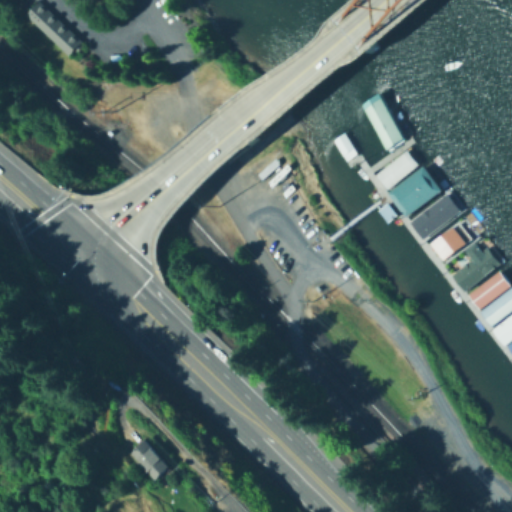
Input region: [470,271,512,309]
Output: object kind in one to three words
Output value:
house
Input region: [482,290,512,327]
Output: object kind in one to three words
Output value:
house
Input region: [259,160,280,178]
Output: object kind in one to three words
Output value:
camper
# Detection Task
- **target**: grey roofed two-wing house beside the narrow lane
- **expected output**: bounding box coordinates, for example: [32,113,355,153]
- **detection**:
[134,437,174,480]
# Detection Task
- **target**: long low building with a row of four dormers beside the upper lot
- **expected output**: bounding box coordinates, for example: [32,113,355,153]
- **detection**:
[32,0,88,58]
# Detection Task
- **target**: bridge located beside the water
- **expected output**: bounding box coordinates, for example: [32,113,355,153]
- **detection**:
[62,0,429,290]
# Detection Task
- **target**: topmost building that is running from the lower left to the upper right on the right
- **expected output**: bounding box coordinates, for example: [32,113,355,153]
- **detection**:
[377,150,420,190]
